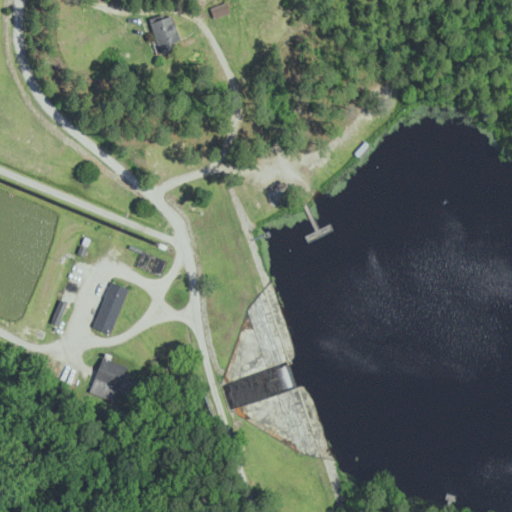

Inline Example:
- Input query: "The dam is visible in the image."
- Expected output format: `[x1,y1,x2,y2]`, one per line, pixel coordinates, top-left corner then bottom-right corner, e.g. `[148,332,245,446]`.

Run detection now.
[223,283,331,458]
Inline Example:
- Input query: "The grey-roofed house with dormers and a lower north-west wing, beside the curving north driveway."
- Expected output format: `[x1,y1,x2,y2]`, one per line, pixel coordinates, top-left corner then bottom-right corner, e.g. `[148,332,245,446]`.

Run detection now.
[146,14,181,51]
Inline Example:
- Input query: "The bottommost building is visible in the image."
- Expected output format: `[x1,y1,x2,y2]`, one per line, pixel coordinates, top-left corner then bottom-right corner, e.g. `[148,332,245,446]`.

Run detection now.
[86,356,127,400]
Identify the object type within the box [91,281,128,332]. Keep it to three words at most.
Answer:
building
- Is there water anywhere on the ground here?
Yes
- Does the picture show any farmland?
No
